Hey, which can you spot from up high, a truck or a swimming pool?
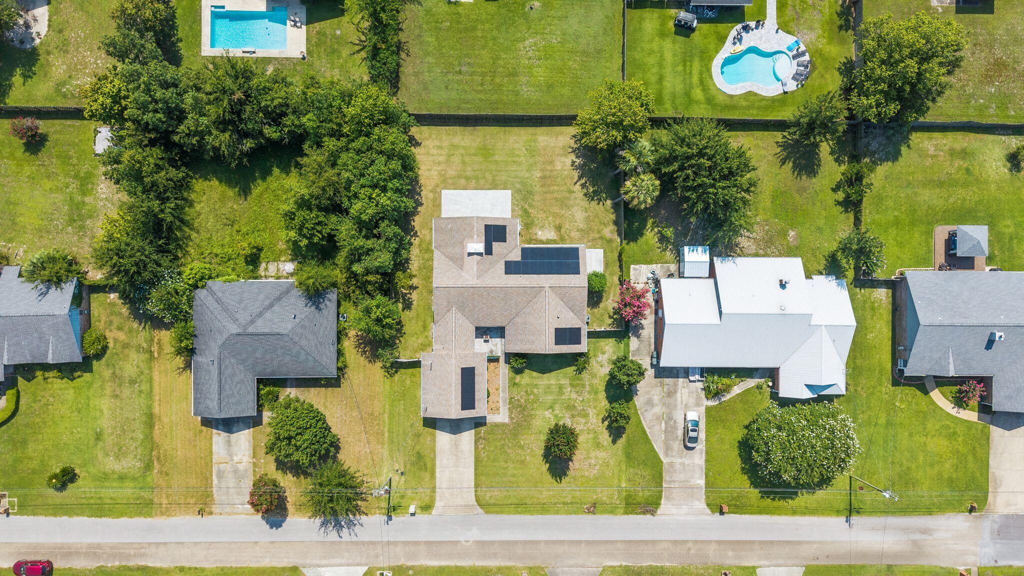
swimming pool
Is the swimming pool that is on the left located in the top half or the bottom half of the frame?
top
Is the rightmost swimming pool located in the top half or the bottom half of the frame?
top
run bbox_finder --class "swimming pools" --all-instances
[202,0,306,57]
[712,0,810,96]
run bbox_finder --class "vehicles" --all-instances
[10,561,50,576]
[685,411,703,450]
[676,8,698,29]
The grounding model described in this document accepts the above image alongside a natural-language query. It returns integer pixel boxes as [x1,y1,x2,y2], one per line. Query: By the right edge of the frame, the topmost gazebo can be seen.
[944,224,989,257]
